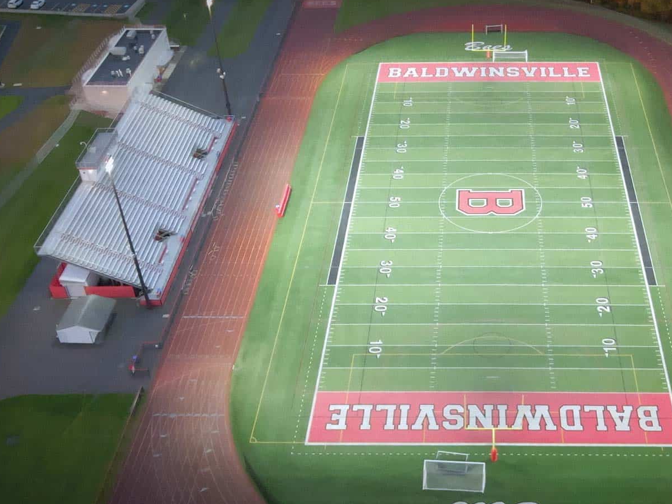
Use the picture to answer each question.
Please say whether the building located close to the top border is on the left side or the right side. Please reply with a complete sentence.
The building located close to the top border is on the left side of the image.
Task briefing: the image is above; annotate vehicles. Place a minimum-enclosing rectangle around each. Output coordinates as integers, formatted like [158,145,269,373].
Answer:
[31,0,47,7]
[8,0,24,6]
